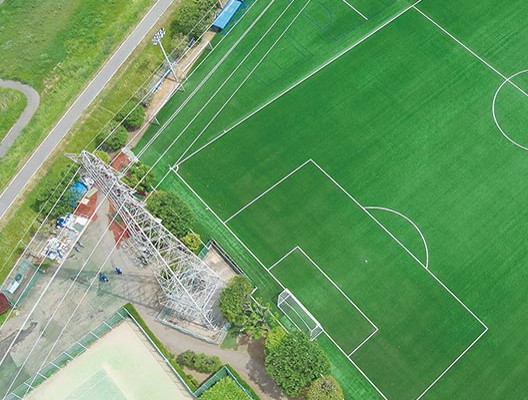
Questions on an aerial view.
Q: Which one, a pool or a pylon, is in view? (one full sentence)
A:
The one in the frame is a pylon.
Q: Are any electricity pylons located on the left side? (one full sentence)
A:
Yes, you'll find an electricity pylon on the left side.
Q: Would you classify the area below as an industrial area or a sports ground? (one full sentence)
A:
This looks like a sports ground.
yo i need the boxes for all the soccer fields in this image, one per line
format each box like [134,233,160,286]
[137,0,528,400]
[124,0,417,193]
